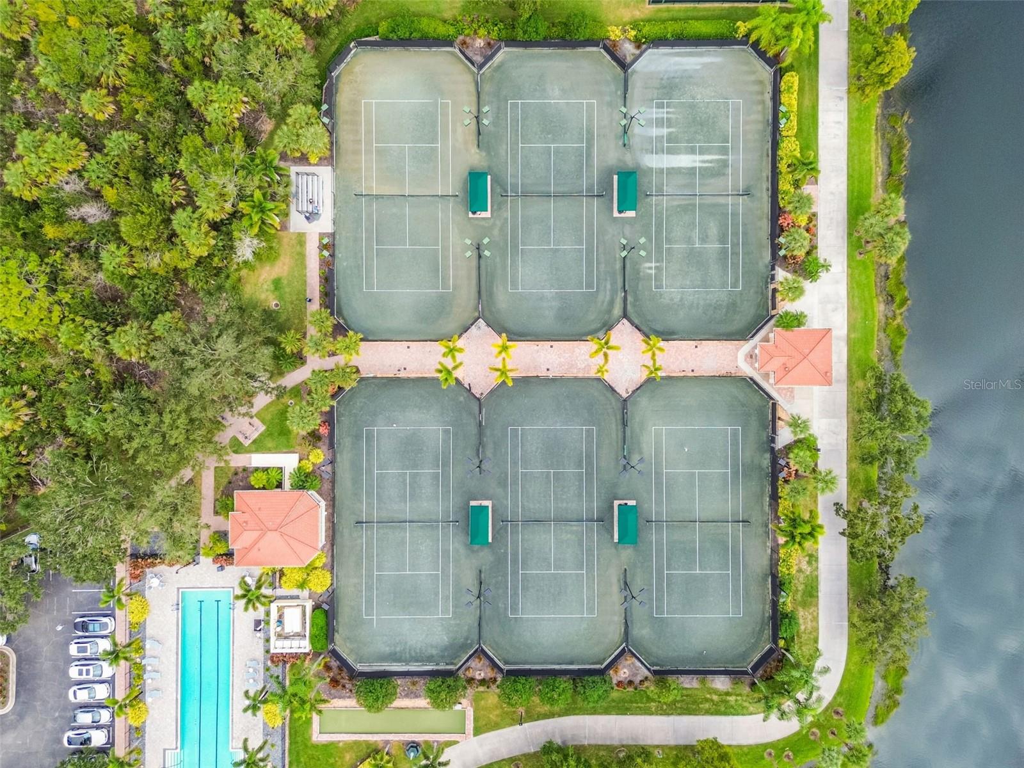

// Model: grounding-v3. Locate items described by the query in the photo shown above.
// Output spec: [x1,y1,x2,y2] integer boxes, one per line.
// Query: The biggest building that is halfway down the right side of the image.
[756,328,833,386]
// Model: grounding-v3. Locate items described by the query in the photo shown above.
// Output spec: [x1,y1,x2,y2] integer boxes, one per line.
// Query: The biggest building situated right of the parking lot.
[228,490,326,567]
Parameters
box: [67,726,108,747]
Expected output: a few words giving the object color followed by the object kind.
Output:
white car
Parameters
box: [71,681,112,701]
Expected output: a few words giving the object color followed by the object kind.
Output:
white car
